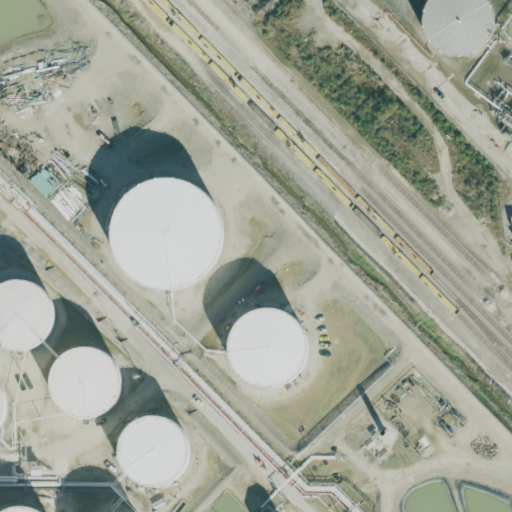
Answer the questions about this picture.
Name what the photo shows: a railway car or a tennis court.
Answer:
railway car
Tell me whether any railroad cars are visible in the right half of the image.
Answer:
Yes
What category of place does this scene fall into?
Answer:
industrial area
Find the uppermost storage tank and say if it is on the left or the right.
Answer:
right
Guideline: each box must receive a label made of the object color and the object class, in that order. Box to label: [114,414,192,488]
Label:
white storage tank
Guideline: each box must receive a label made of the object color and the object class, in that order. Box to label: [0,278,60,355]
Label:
white storage tank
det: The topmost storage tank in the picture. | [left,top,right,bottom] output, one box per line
[420,0,498,60]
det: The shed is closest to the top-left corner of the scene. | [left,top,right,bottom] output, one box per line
[30,168,60,197]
